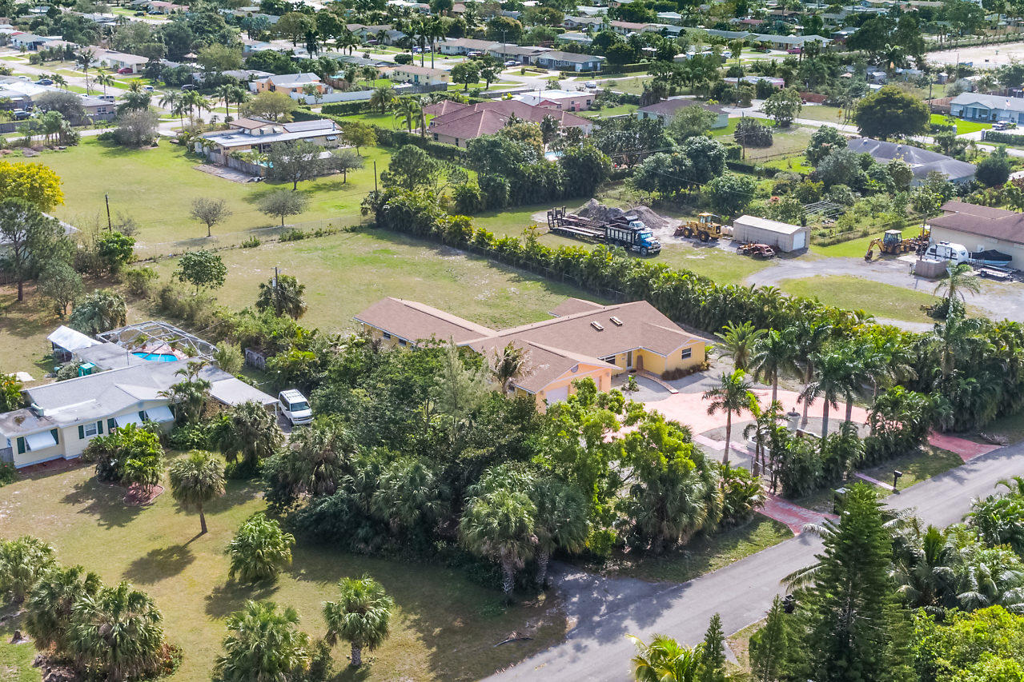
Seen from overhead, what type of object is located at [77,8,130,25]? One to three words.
house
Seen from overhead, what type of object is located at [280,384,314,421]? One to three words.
van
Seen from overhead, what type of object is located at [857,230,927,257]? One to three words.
work vehicle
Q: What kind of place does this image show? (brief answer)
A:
residential area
